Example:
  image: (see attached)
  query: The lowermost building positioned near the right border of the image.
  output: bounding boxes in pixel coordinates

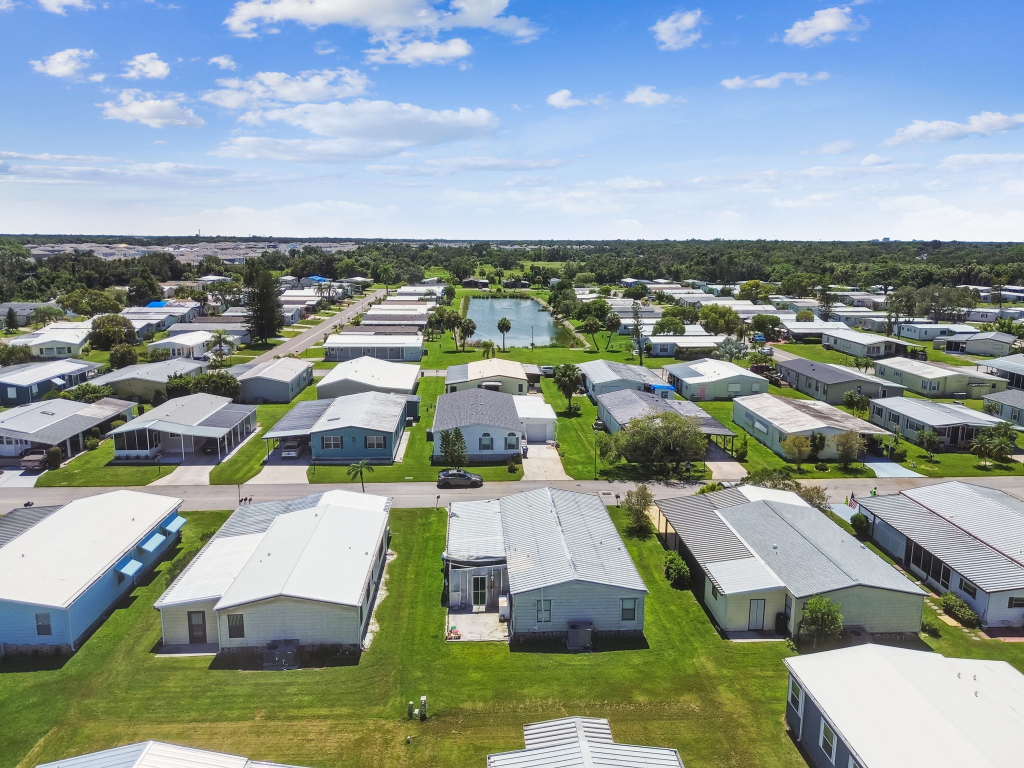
[781,643,1024,768]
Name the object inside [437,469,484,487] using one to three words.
car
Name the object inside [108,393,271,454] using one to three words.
house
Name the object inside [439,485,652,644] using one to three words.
house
